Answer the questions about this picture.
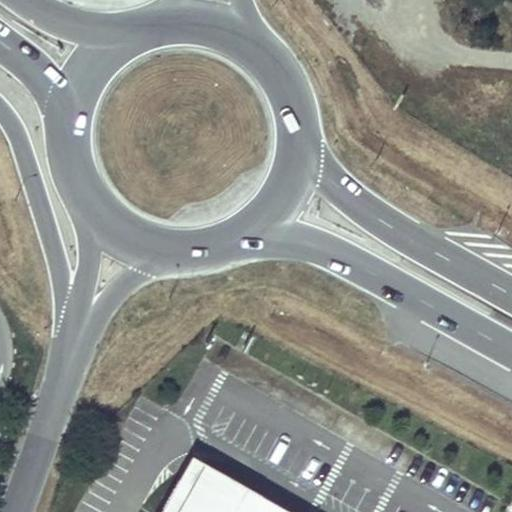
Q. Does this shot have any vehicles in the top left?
Yes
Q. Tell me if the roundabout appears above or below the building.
above it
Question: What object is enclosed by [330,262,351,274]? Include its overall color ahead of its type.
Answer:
white vehicle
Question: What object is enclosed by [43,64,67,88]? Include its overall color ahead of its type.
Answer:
white vehicle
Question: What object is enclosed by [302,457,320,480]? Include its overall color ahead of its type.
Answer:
white car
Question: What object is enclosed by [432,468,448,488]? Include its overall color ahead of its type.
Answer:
white car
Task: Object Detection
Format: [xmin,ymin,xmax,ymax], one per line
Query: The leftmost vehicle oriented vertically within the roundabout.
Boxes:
[74,113,86,134]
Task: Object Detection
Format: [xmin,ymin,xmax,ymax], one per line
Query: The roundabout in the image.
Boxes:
[47,0,321,274]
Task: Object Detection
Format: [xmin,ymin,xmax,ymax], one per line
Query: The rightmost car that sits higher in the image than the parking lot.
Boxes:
[436,316,457,331]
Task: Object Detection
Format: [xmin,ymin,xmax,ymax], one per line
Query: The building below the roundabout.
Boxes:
[160,456,291,512]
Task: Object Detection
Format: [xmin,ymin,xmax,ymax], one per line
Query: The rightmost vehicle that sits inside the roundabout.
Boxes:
[280,106,300,132]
